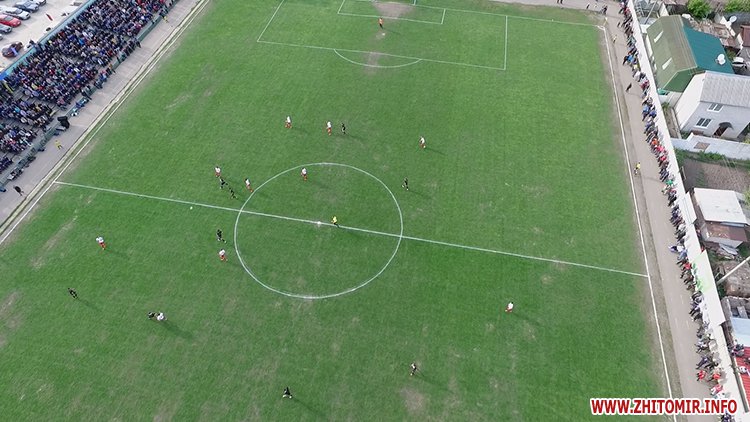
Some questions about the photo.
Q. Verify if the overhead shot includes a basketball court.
No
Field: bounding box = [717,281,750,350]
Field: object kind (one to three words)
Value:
shed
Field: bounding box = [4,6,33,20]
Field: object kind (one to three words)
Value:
vehicle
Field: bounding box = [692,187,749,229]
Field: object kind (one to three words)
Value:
shed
